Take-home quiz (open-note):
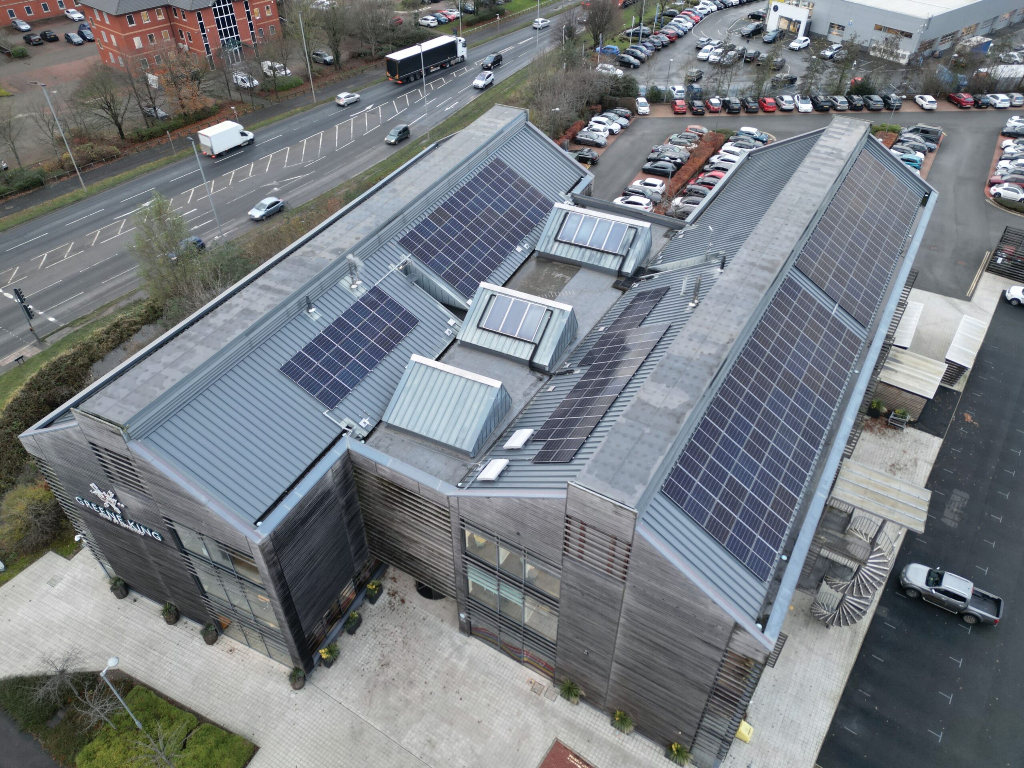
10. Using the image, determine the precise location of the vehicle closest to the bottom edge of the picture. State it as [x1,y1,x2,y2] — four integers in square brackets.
[901,571,1007,642]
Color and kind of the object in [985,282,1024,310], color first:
white car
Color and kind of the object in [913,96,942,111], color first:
white car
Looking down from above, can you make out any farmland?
No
